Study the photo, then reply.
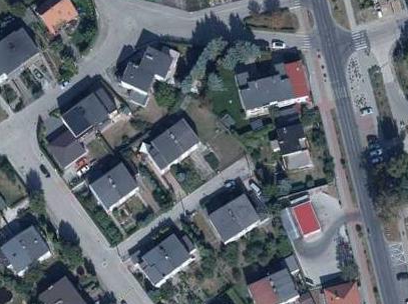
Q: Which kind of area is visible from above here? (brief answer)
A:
residential area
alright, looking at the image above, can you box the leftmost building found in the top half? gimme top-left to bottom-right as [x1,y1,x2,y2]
[0,29,41,84]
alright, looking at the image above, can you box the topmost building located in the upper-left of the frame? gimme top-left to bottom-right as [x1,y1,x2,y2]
[39,0,79,36]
